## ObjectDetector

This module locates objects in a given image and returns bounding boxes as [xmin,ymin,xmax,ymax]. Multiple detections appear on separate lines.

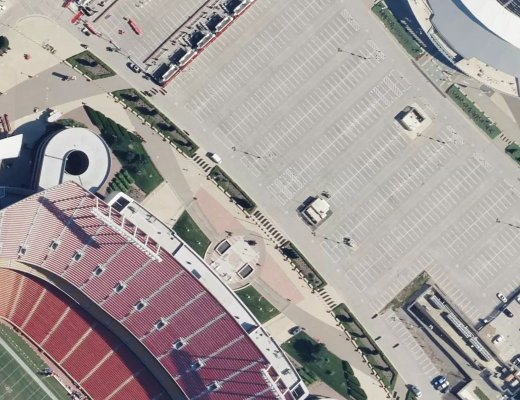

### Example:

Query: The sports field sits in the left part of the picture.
[0,320,90,400]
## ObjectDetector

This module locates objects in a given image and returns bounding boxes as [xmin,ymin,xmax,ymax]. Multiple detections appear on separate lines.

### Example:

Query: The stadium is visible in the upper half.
[400,0,520,106]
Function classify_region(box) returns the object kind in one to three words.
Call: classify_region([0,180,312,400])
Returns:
stadium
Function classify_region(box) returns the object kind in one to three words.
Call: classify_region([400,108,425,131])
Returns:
building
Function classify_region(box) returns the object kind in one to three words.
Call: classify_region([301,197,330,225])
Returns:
building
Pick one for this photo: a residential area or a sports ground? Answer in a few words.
sports ground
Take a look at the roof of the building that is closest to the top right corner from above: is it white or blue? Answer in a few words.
white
